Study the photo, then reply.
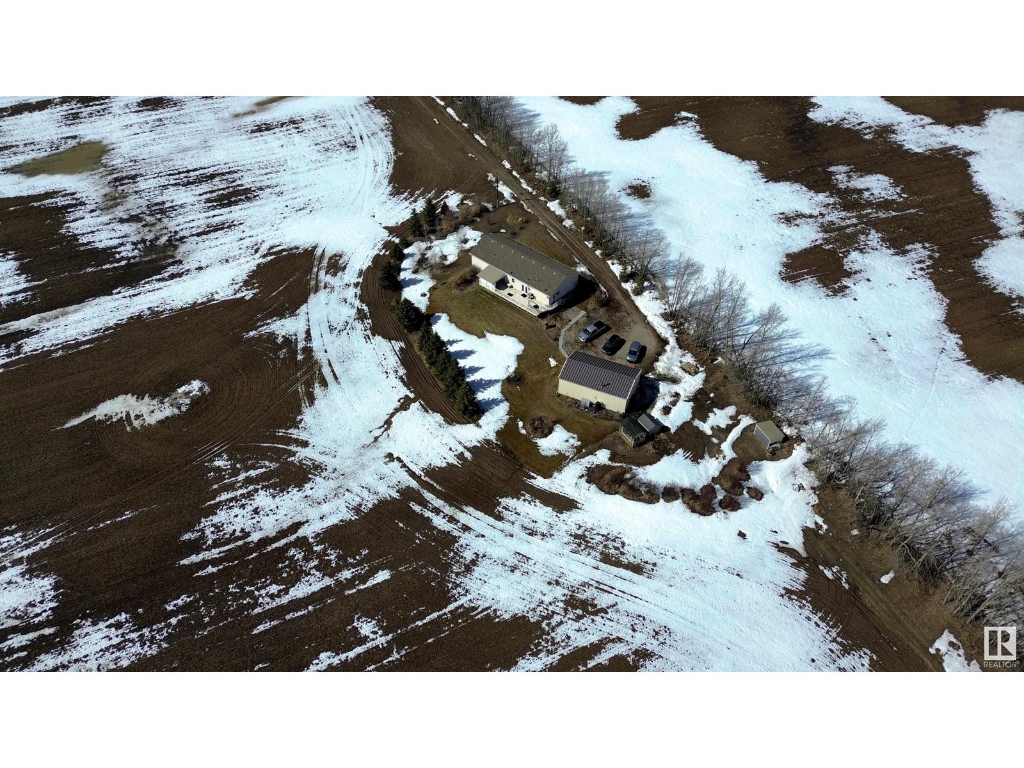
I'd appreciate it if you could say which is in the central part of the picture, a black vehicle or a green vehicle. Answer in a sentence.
There is a black vehicle in the central part of the picture.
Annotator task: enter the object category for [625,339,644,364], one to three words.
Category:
car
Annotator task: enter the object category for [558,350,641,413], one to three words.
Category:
building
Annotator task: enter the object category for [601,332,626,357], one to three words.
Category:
car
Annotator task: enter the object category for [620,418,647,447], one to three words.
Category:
greenhouse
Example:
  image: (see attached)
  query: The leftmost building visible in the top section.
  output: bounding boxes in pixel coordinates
[468,234,581,319]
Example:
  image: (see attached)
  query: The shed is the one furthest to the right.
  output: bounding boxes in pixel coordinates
[751,420,786,453]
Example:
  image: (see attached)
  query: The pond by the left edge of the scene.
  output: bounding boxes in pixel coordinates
[12,136,111,180]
